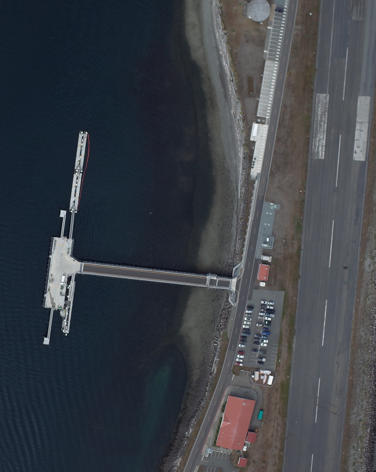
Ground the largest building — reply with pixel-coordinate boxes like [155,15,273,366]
[216,395,255,449]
